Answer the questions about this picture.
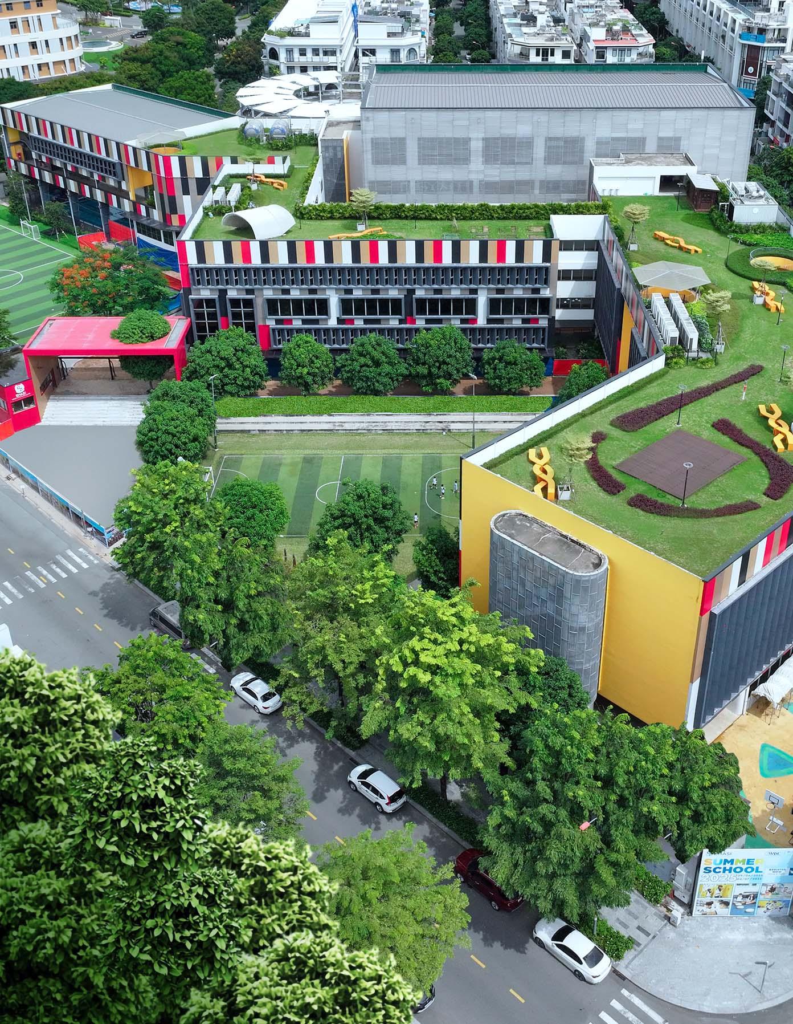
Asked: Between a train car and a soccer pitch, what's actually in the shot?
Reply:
soccer pitch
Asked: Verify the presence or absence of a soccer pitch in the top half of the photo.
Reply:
Yes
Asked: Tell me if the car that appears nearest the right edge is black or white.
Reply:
white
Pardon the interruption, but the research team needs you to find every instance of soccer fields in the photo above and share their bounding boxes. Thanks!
[222,455,462,535]
[0,226,82,349]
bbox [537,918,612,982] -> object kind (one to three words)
car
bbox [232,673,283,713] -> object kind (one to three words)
car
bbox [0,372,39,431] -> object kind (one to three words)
building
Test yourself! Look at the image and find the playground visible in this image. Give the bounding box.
[709,692,793,849]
